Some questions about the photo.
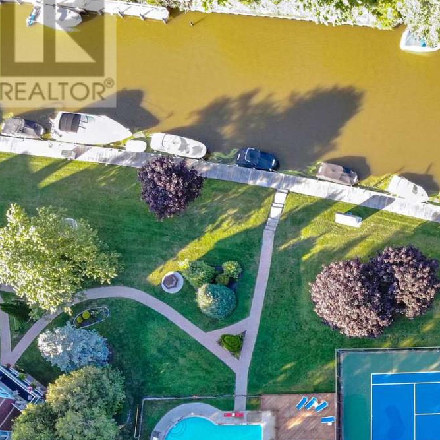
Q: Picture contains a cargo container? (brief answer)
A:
No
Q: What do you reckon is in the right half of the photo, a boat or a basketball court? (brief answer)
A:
boat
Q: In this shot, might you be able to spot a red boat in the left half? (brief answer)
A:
No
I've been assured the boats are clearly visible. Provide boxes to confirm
[125,139,148,150]
[235,148,279,171]
[34,7,83,30]
[390,175,430,203]
[148,130,207,161]
[0,117,46,138]
[49,109,134,155]
[400,40,440,58]
[315,160,358,183]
